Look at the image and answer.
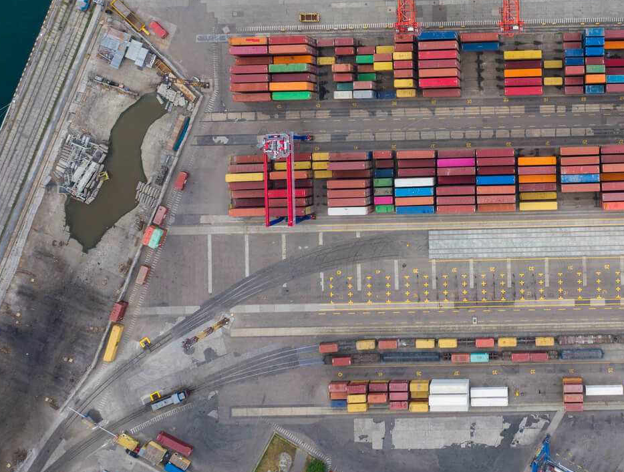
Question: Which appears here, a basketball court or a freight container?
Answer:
freight container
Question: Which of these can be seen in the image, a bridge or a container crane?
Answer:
container crane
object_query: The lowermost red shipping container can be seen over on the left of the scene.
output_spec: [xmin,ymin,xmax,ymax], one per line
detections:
[157,428,197,455]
